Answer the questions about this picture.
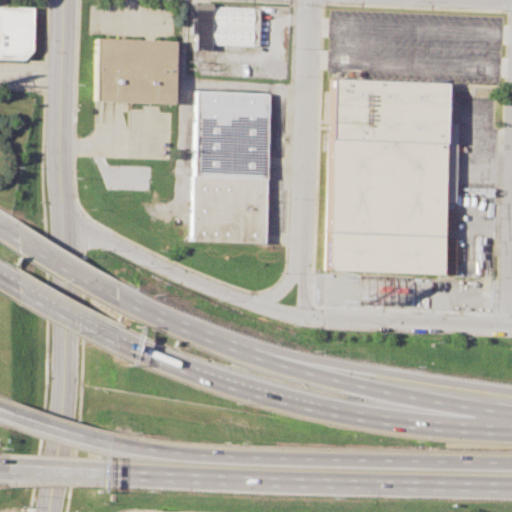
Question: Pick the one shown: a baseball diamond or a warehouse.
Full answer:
Of the two, only a warehouse appears.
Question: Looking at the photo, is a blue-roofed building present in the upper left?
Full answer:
No, I see no blue-roofed building in the upper left.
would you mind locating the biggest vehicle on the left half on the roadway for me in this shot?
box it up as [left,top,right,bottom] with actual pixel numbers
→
[142,346,185,369]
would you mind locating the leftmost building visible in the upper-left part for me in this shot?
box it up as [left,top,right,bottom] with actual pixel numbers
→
[0,6,36,62]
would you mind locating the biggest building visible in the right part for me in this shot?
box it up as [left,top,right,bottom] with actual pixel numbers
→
[322,81,453,274]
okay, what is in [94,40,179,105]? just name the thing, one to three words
building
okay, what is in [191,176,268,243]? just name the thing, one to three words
building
